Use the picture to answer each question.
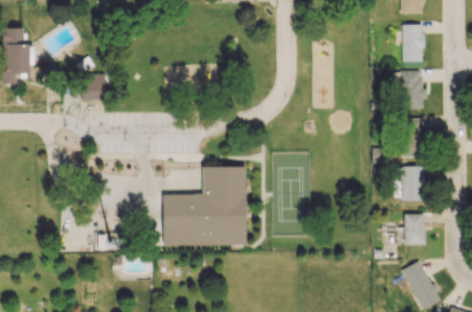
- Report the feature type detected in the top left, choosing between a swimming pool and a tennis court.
swimming pool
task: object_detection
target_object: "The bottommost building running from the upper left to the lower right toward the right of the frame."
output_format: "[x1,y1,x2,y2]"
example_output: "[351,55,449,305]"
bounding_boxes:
[402,261,442,310]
